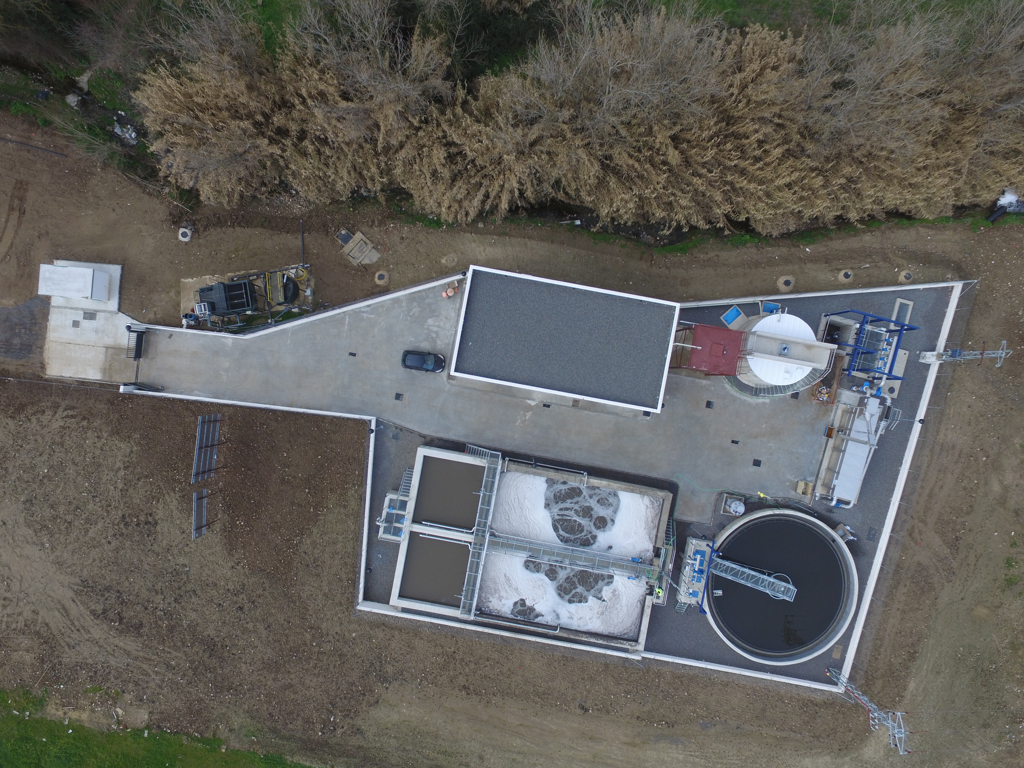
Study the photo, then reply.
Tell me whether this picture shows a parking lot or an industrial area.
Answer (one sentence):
The picture captures an industrial area.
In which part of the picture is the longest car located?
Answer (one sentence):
The longest car is in the center part of the image.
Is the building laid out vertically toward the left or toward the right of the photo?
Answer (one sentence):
The building laid out vertically appears in the right half of the scene.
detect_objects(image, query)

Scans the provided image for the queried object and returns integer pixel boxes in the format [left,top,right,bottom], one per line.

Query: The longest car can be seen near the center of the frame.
[400,350,444,372]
